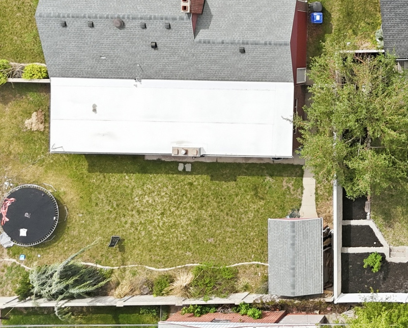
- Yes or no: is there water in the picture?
No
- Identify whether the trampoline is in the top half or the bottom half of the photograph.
bottom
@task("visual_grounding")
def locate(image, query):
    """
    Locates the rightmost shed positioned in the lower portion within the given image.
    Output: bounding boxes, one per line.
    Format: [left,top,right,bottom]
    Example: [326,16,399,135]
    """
[268,217,325,296]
